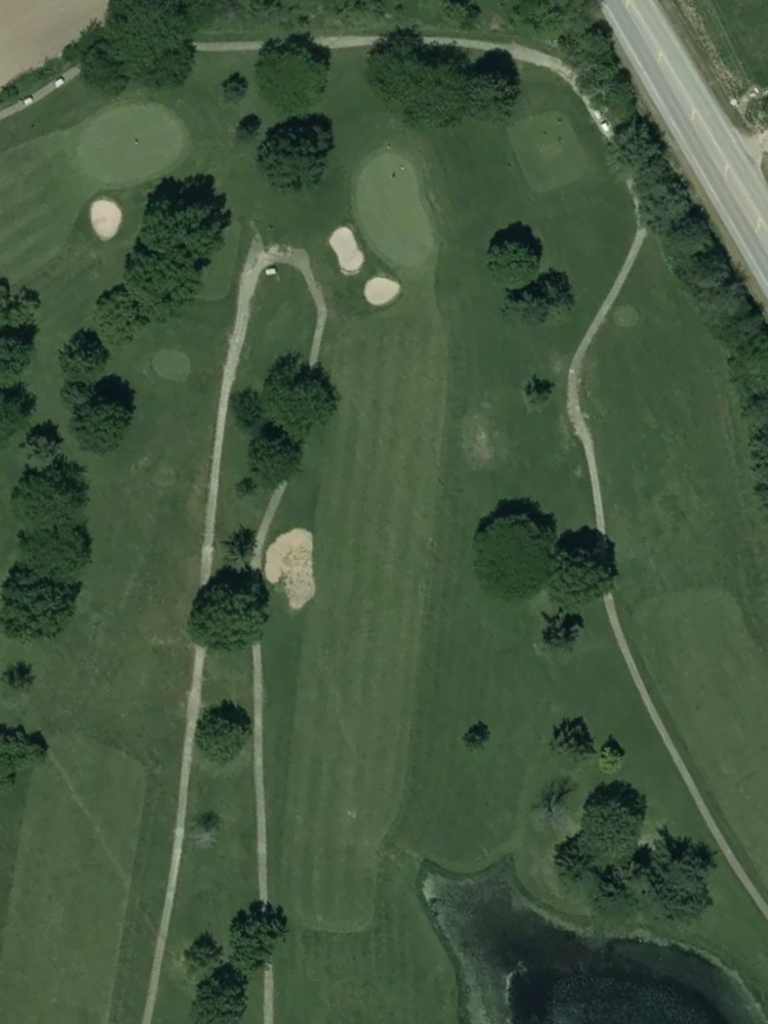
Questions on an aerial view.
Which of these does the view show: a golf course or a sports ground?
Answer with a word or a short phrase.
golf course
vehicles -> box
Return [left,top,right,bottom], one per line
[22,96,35,107]
[600,121,610,134]
[265,268,278,276]
[53,77,67,88]
[592,109,603,122]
